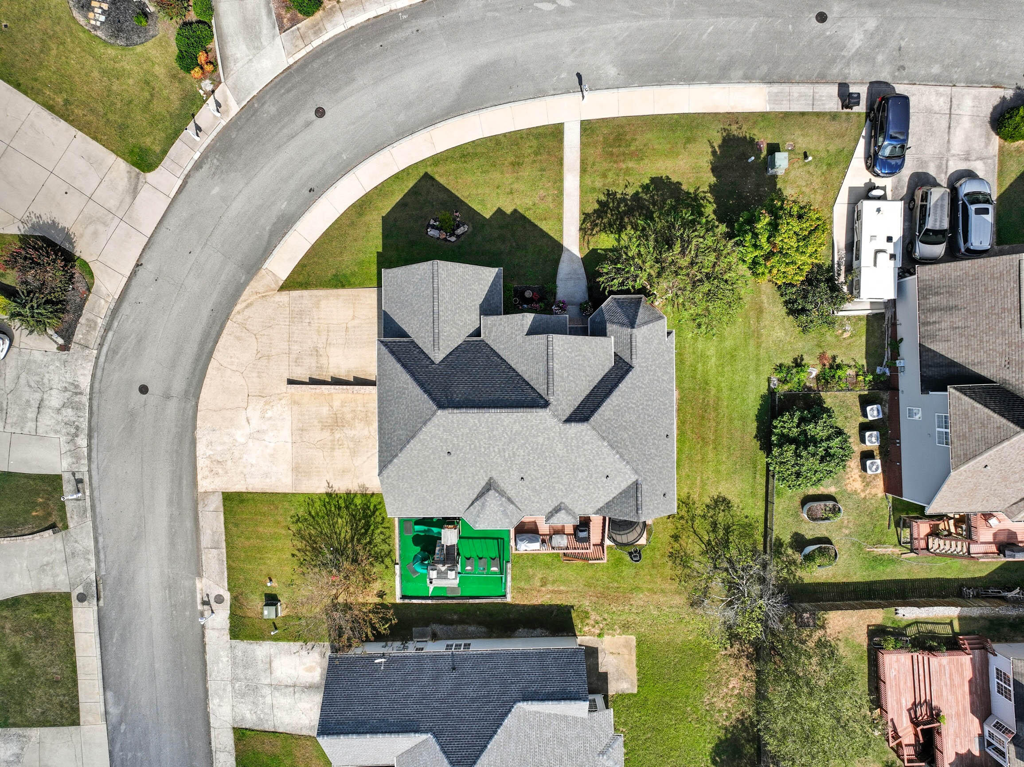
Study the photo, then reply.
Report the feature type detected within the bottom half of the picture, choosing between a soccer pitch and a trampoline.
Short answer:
trampoline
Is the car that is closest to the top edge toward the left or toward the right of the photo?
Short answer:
right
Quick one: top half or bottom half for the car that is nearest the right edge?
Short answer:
top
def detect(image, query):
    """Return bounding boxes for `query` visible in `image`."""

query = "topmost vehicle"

[872,93,914,175]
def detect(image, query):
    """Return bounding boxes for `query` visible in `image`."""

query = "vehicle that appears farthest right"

[952,180,993,254]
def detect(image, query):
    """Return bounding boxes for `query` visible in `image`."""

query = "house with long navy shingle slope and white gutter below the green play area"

[313,638,625,767]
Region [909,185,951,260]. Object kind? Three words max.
car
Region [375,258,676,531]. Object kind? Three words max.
house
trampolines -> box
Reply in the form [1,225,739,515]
[608,518,653,564]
